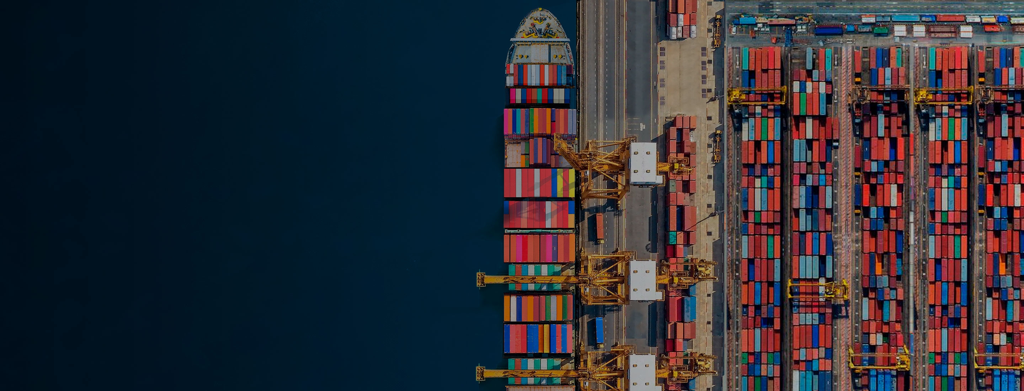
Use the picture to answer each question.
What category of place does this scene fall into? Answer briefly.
port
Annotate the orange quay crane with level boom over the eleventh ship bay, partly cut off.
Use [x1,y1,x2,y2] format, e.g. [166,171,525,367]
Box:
[476,337,718,391]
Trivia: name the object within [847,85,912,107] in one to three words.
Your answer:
container crane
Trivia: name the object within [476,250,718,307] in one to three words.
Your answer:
container crane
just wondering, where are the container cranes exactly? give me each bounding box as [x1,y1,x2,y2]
[786,279,848,300]
[847,85,912,107]
[476,250,718,307]
[967,349,1024,369]
[476,337,718,391]
[846,349,913,369]
[726,85,787,109]
[550,130,694,190]
[910,85,974,109]
[969,85,1024,107]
